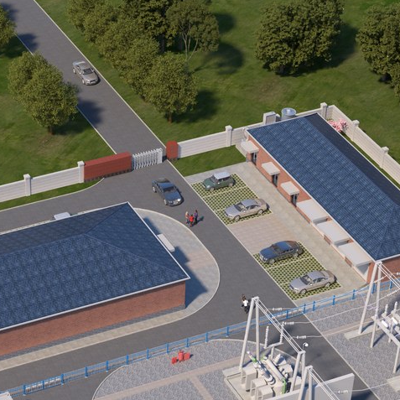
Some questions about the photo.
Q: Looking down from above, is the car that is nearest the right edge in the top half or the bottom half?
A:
bottom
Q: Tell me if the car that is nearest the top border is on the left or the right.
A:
left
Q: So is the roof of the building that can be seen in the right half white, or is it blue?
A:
blue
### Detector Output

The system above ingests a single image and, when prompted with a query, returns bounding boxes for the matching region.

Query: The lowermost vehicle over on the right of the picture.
[287,265,337,291]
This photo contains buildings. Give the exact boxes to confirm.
[0,202,191,359]
[236,112,400,287]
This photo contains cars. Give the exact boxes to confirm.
[258,236,307,263]
[202,164,241,190]
[287,265,337,291]
[222,194,270,218]
[72,59,99,84]
[145,176,182,206]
